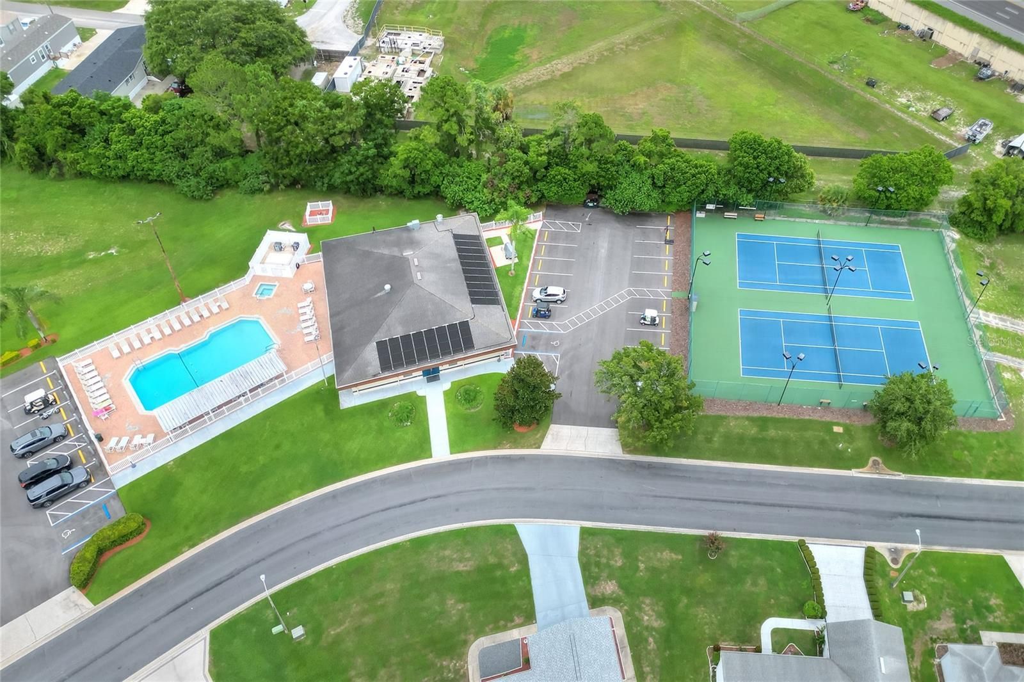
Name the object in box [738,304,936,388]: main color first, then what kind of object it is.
blue tennis court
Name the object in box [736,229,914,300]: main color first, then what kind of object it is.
blue tennis court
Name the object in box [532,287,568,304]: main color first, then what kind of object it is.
white car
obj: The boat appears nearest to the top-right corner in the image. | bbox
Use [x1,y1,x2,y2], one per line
[979,64,996,80]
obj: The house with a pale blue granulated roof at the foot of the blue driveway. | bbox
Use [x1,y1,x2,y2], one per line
[485,616,621,682]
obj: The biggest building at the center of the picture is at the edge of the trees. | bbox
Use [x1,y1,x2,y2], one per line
[317,213,521,403]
